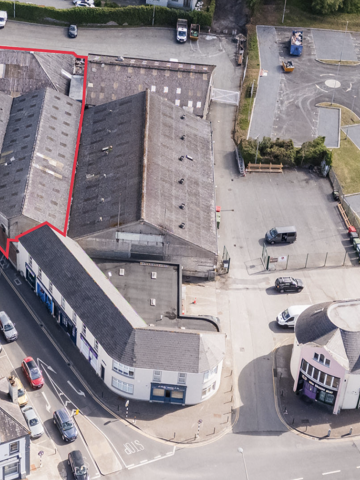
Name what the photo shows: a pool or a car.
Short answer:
car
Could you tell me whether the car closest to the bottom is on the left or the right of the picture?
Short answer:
left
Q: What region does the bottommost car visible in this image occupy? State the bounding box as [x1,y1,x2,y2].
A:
[67,448,91,480]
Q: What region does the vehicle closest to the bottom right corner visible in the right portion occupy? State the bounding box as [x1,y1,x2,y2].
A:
[273,299,318,327]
